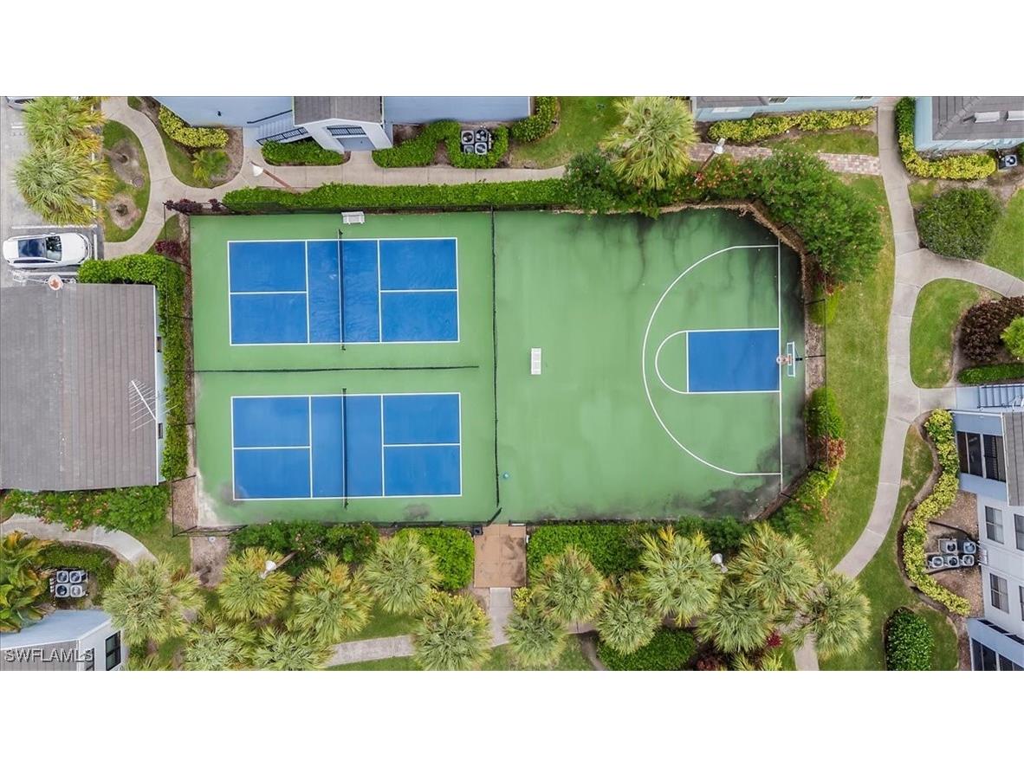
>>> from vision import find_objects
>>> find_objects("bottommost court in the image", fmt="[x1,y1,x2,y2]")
[193,368,498,527]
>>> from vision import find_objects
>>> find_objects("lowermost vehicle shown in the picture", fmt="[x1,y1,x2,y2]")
[6,228,93,269]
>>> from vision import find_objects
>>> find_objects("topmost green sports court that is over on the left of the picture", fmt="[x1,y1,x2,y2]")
[189,210,495,370]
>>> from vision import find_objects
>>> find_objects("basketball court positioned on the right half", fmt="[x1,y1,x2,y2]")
[494,206,808,523]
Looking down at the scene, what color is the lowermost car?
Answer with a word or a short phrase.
white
